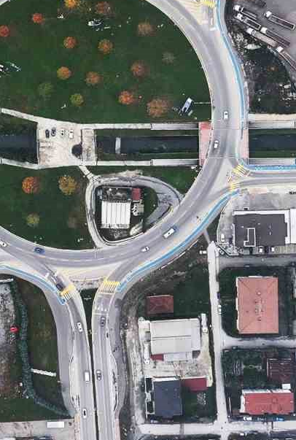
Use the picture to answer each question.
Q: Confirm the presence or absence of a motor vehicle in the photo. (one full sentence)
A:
Yes, you can see a motor vehicle in this photo.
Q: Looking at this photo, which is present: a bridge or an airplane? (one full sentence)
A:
I can see a bridge in this picture.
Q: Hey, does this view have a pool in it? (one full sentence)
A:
No, this view has no pool in it.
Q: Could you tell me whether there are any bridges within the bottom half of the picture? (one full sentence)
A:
No, no bridge is visible within the bottom half of the picture.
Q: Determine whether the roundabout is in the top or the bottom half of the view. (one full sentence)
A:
It is in the top half that the roundabout appears.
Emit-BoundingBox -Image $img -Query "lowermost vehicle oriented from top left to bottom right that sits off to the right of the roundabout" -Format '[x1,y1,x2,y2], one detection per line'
[276,46,296,70]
